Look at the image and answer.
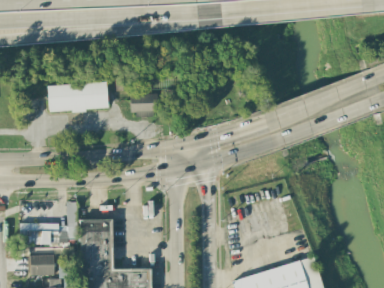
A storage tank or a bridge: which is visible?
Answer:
bridge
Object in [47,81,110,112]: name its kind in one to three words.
building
